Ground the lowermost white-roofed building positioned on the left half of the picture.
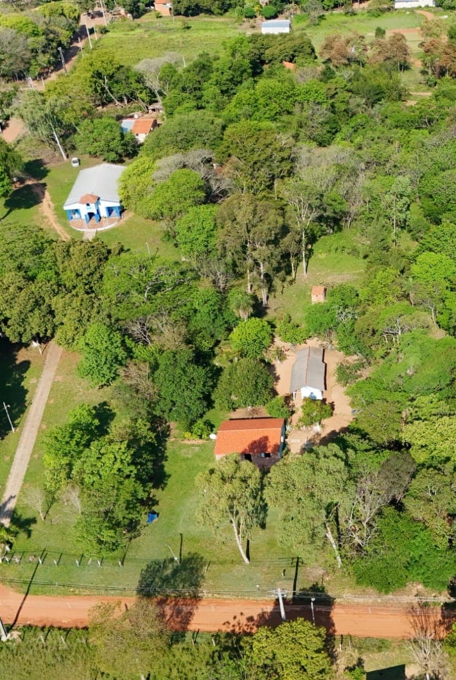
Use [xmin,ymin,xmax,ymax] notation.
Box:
[62,163,128,227]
